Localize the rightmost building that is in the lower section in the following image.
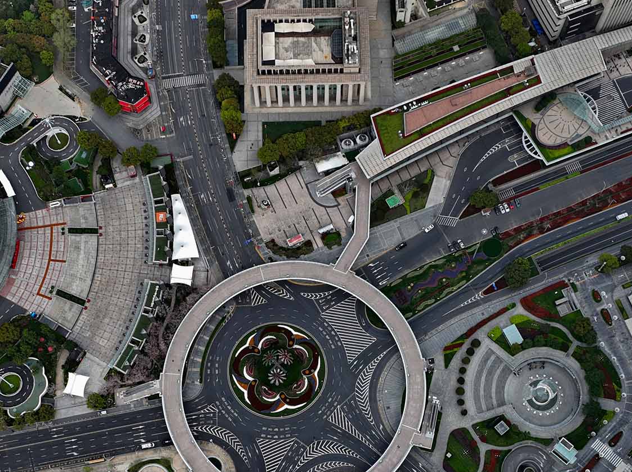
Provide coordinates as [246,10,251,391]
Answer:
[550,438,577,465]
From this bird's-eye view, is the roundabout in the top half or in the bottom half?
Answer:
bottom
